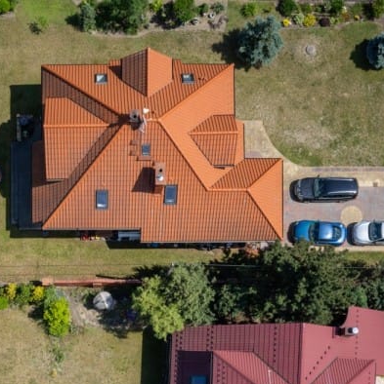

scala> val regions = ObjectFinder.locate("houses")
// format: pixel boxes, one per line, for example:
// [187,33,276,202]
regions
[32,47,285,243]
[170,307,384,384]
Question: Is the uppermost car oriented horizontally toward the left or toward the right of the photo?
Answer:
right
